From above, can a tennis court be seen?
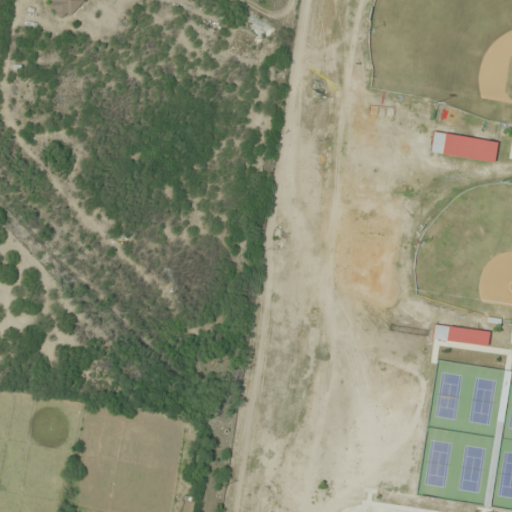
Yes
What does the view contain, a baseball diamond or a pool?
baseball diamond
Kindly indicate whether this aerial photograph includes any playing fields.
Yes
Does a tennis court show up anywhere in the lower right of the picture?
Yes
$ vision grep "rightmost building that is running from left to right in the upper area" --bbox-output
[432,130,500,162]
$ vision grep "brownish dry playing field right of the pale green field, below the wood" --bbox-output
[74,407,180,512]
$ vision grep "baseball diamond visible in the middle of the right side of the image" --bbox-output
[416,184,512,317]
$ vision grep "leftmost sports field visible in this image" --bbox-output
[0,392,84,512]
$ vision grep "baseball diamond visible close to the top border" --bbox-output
[370,0,512,124]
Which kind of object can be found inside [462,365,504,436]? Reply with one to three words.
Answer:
tennis court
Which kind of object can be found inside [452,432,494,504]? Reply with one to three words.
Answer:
tennis court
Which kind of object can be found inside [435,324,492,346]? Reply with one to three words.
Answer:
building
